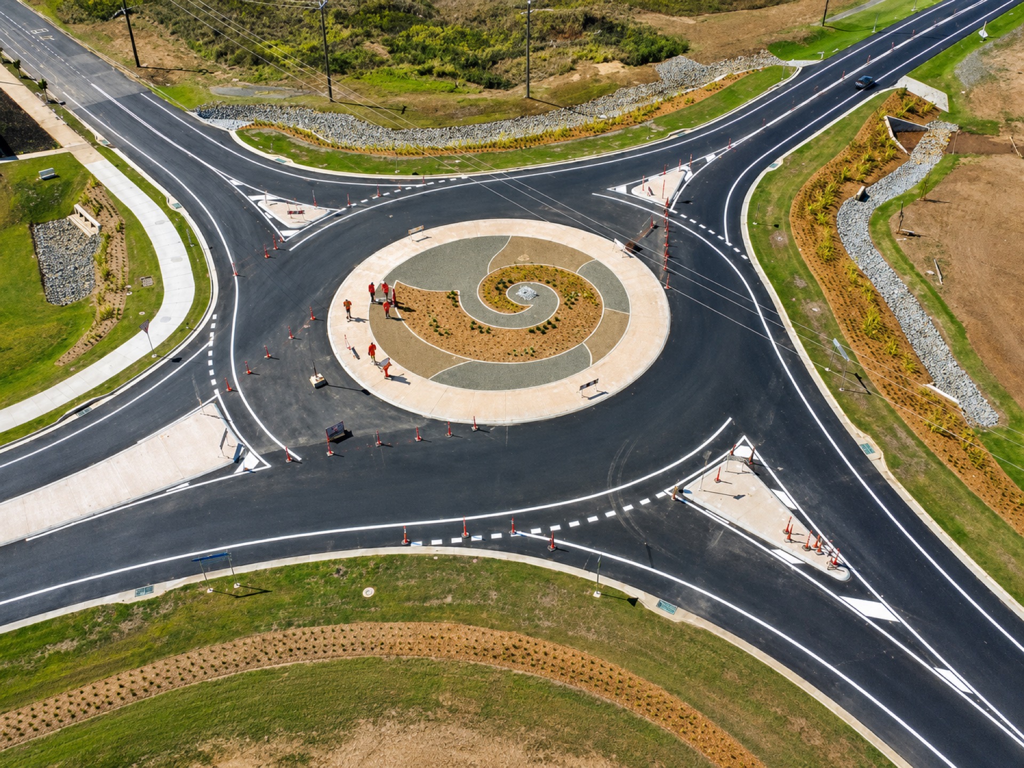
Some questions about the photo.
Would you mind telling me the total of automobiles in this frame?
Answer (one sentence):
In total, 1 automobile can be seen.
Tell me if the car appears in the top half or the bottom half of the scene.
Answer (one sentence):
You can find the car in the top half.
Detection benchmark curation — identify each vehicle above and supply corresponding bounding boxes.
[852,70,879,90]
